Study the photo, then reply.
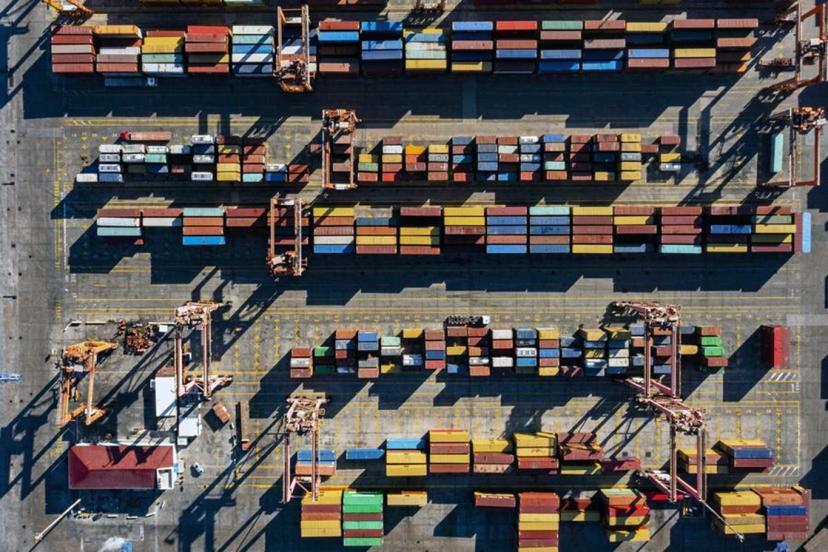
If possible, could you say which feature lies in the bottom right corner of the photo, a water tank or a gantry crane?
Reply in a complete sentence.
The one visible in the bottom right corner of the photo is a gantry crane.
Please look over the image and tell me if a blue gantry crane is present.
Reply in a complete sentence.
No, no blue gantry crane can be seen from above.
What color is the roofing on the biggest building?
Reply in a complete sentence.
The roof of the biggest building is red.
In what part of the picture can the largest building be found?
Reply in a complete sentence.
The largest building sits in the bottom left section of the image.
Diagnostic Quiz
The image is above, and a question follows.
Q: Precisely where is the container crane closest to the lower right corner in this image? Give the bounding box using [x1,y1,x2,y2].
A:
[640,397,716,504]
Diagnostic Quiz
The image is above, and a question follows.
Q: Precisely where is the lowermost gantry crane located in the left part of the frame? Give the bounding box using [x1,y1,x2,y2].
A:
[282,398,332,504]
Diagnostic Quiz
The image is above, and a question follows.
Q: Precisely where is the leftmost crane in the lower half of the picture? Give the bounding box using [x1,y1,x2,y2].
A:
[49,334,132,426]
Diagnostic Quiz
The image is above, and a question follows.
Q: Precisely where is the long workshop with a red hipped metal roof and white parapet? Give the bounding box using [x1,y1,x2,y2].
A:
[67,438,182,491]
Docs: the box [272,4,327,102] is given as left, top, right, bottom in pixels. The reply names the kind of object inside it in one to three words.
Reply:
container crane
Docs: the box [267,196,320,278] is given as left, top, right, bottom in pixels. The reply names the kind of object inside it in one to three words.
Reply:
container crane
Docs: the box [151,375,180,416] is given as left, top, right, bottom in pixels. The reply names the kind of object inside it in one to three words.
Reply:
building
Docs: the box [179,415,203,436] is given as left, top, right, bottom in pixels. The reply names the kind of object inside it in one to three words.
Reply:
building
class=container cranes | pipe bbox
[49,334,132,426]
[746,103,828,192]
[617,301,685,399]
[165,298,235,399]
[272,4,327,102]
[640,397,716,504]
[267,196,320,278]
[311,105,368,194]
[408,0,451,10]
[282,398,332,504]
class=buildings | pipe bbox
[67,438,182,491]
[179,415,203,436]
[151,375,180,416]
